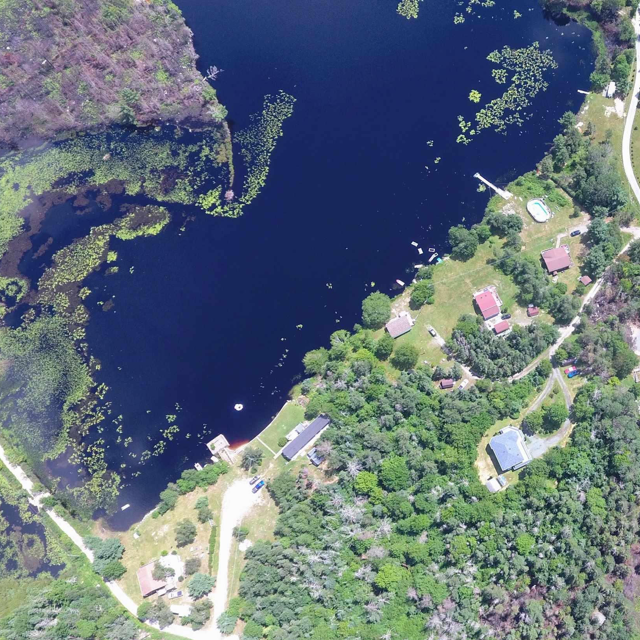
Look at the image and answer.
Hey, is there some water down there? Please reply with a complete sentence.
Yes, water shows up in the scene.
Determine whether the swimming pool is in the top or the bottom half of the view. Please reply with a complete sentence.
Seen from above, the swimming pool lies in the top half of the view.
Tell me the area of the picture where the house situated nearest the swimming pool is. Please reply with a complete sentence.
The house situated nearest the swimming pool sits in the right section of the image.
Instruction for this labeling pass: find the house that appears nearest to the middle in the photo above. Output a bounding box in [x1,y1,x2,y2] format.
[387,309,415,339]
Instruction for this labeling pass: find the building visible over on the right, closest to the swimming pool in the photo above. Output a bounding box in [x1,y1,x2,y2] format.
[540,243,574,275]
